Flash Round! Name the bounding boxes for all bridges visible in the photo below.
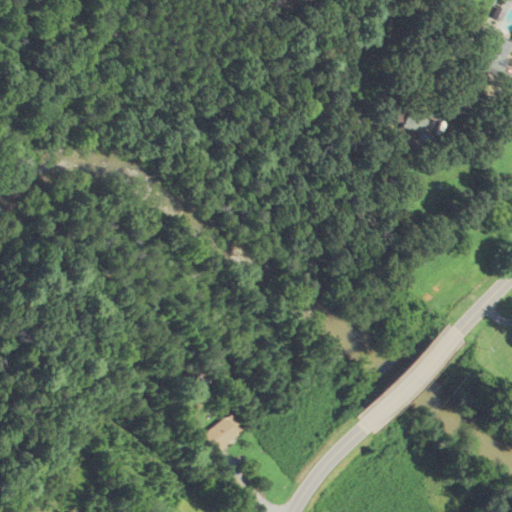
[358,324,467,437]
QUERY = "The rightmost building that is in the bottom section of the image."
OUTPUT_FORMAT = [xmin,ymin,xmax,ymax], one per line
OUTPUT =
[208,415,242,454]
